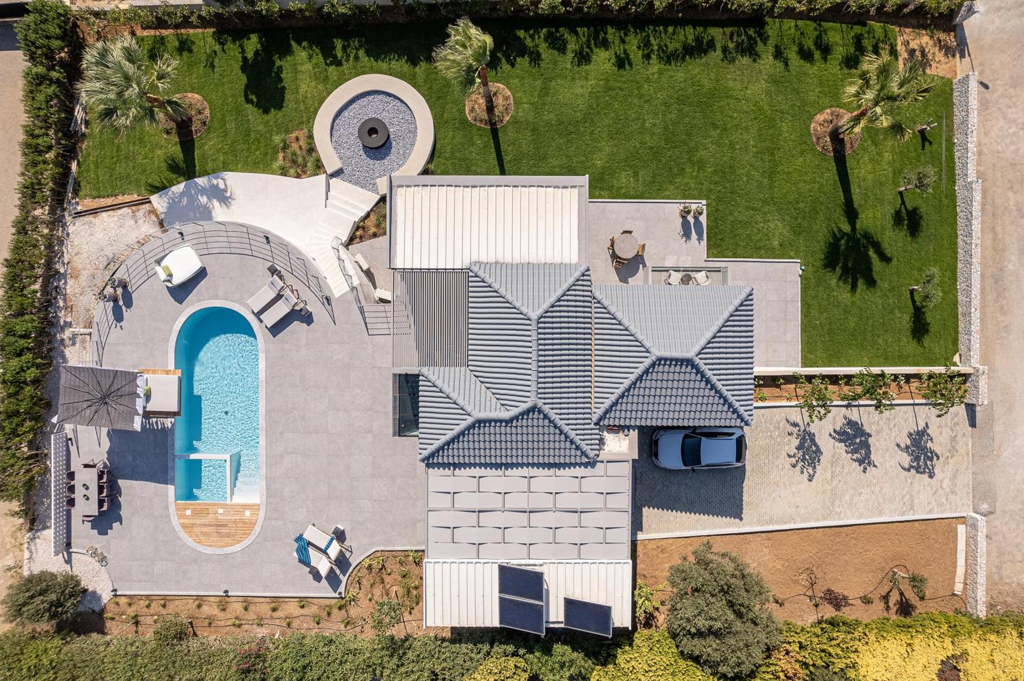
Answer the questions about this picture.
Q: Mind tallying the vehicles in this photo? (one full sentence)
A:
There is 1 vehicle in the image.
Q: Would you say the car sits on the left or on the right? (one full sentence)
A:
You can find the car on the right side of the picture.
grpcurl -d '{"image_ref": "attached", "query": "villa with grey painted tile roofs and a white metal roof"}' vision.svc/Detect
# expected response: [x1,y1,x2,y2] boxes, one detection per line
[388,175,757,467]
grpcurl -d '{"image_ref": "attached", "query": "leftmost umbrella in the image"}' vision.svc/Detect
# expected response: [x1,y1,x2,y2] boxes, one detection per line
[51,363,153,429]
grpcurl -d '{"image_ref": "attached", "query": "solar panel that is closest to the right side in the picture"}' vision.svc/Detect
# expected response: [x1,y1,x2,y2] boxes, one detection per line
[562,597,612,637]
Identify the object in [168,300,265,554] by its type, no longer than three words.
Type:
swimming pool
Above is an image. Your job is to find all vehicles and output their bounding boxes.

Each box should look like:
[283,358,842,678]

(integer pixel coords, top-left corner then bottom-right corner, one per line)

[652,427,748,475]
